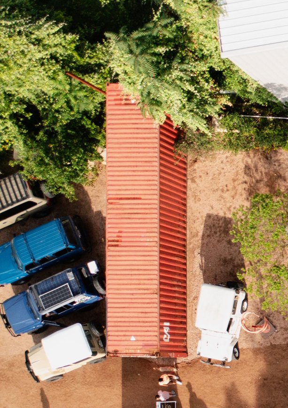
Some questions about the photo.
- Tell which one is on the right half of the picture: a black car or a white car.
white car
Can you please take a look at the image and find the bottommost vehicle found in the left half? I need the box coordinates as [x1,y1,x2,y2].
[26,321,115,386]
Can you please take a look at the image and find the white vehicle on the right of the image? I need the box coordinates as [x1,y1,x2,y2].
[193,278,248,374]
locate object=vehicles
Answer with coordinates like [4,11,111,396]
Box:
[0,169,75,240]
[0,213,104,284]
[26,321,115,386]
[1,261,107,336]
[193,278,248,374]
